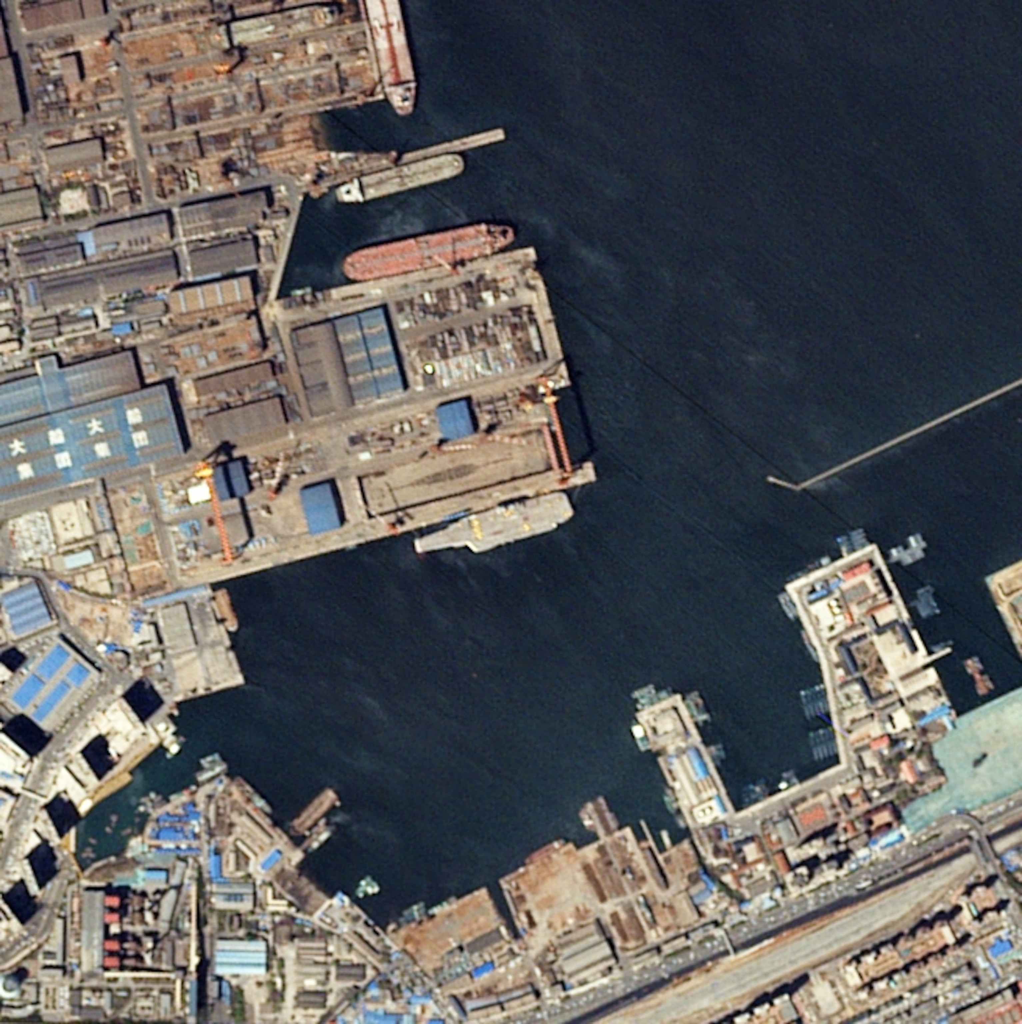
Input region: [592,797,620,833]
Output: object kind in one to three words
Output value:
ship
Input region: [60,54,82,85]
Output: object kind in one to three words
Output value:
building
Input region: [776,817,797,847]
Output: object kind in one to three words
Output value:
house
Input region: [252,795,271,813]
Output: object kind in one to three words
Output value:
boat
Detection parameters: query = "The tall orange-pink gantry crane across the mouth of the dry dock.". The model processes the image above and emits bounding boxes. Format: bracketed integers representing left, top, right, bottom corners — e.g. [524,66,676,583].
[541,374,576,482]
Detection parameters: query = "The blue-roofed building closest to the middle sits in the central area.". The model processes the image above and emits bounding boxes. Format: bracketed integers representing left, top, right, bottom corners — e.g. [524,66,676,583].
[437,398,475,440]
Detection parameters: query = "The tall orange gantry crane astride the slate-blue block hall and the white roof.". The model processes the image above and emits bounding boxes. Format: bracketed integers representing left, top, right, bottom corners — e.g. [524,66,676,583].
[196,460,237,565]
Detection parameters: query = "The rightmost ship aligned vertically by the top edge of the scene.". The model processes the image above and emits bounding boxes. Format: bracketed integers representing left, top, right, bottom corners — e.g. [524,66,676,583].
[362,0,415,118]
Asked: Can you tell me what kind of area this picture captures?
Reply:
port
